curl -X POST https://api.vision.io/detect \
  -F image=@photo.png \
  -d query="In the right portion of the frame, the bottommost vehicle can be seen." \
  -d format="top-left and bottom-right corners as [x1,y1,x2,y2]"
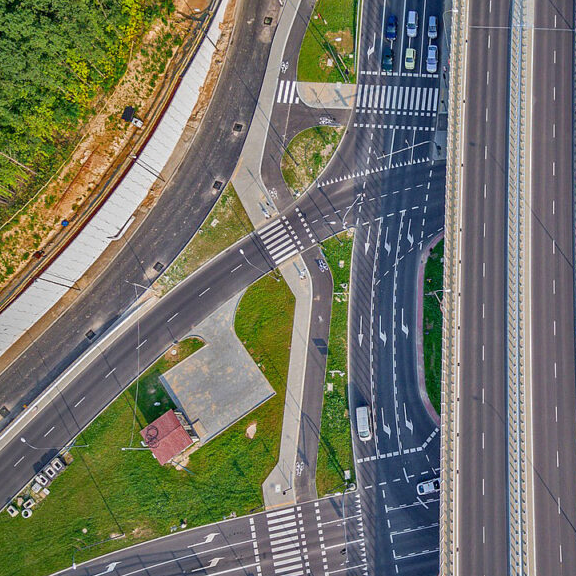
[416,477,439,495]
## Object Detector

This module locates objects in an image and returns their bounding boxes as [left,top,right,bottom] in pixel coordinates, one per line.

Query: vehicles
[385,15,399,42]
[416,477,439,495]
[426,16,439,40]
[405,12,419,39]
[381,45,395,71]
[404,47,417,70]
[425,45,439,73]
[355,406,372,442]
